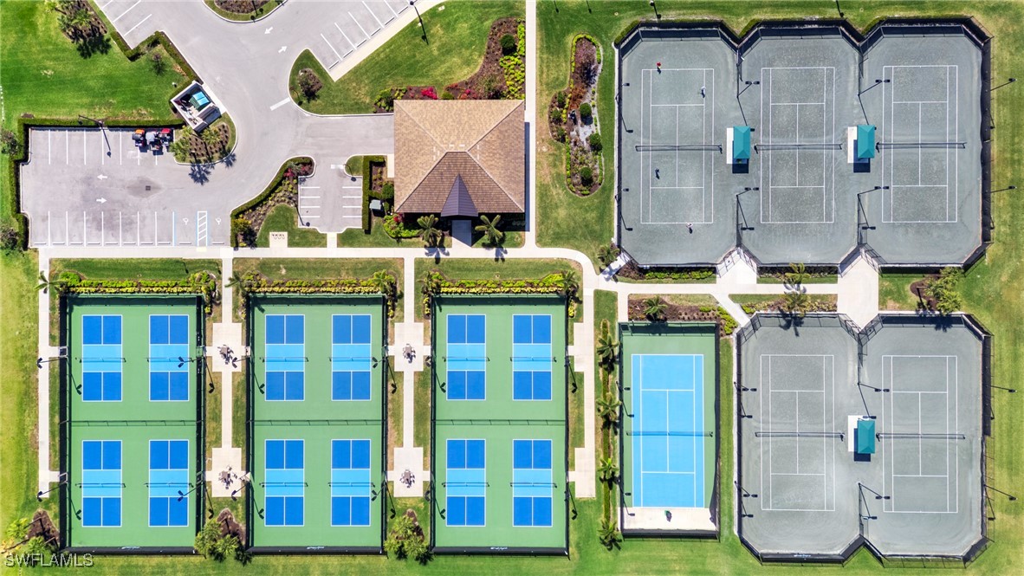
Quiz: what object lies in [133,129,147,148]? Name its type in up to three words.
work vehicle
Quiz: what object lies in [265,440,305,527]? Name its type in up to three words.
sports court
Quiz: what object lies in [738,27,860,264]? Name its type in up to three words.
tennis court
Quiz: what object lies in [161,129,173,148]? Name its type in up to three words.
vehicle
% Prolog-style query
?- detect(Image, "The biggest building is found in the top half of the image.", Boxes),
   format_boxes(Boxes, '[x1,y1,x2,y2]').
[393,98,526,217]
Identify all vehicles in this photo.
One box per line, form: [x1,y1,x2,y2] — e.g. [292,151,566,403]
[146,131,160,150]
[161,129,173,148]
[133,129,147,148]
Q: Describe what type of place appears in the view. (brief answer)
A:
sports ground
